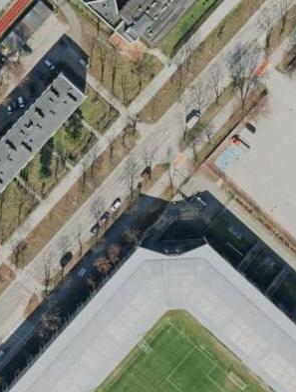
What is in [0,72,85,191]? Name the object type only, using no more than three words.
building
